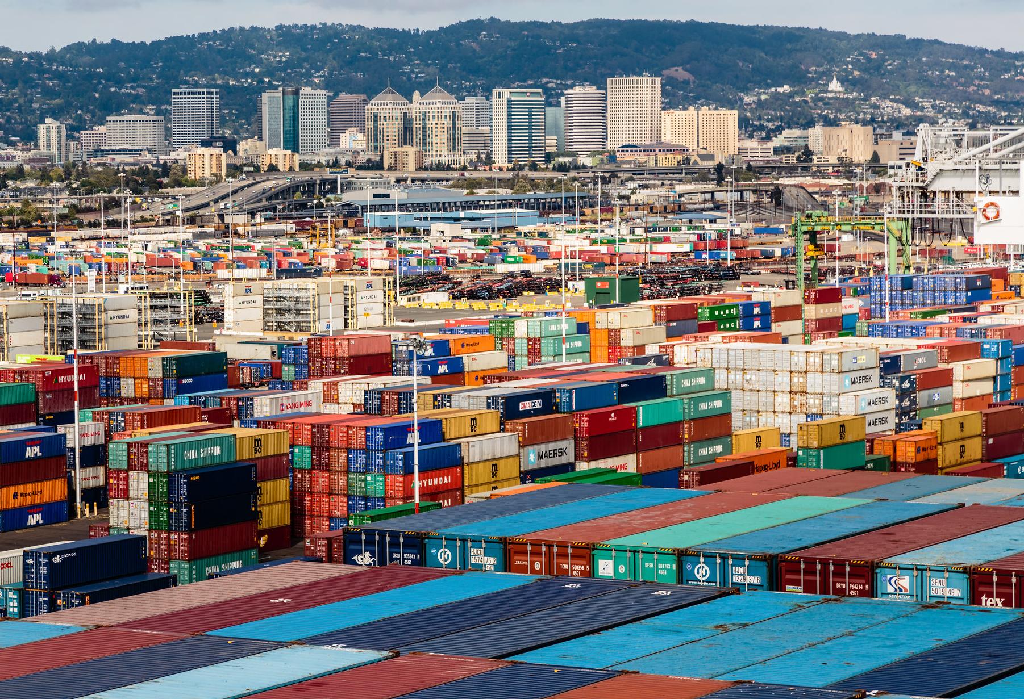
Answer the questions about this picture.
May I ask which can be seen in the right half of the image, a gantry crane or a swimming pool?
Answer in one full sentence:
The feature located in the right half of the image is a gantry crane.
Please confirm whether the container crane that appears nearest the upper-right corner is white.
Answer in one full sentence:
Yes, the container crane that appears nearest the upper-right corner is indeed white.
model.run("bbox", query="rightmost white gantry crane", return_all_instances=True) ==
[878,122,1024,246]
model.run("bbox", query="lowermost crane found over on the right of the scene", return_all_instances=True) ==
[788,203,915,327]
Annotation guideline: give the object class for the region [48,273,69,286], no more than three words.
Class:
vehicle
